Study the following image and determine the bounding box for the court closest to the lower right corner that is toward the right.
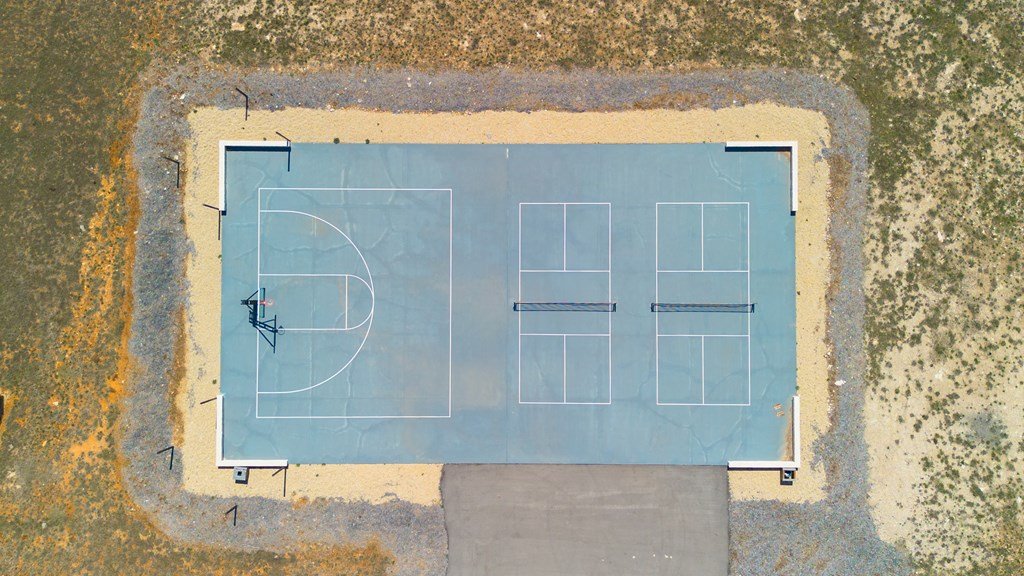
[656,203,750,405]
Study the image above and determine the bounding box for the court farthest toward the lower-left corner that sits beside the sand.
[257,188,452,418]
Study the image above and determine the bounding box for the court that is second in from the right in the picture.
[519,203,610,404]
